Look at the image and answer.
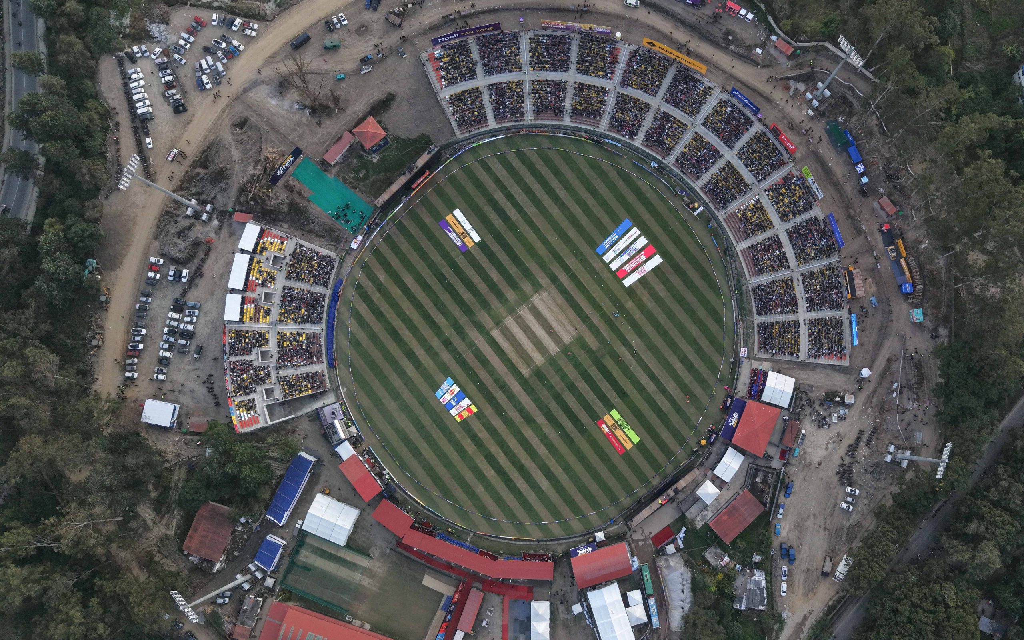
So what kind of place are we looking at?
sports ground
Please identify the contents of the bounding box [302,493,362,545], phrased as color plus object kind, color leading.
white tent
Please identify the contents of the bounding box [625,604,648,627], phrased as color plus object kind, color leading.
white tent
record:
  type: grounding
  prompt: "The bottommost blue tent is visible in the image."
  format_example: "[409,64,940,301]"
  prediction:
[254,536,286,571]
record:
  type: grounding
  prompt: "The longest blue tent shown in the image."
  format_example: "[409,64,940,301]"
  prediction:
[265,454,317,526]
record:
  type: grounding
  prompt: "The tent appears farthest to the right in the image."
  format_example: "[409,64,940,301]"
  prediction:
[761,371,795,409]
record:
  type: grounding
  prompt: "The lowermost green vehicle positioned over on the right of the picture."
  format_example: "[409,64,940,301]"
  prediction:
[640,562,653,595]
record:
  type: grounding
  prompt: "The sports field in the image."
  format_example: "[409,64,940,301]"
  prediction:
[335,134,735,539]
